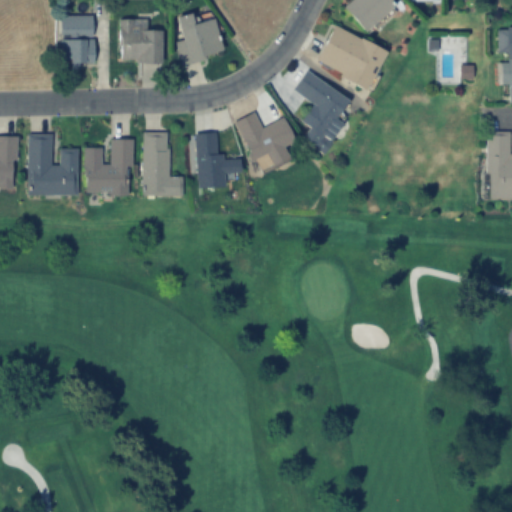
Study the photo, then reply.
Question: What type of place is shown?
golf course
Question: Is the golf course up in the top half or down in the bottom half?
bottom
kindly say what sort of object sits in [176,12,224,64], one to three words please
house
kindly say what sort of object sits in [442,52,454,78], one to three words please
swimming pool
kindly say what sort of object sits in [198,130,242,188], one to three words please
house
